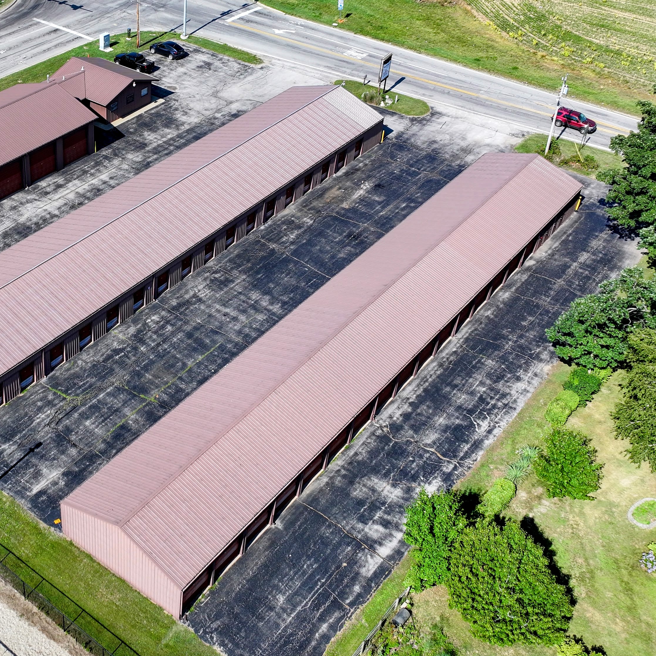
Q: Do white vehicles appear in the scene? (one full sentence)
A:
No, the scene contains no white vehicle.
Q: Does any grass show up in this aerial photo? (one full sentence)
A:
Yes, grass shows up in the scene.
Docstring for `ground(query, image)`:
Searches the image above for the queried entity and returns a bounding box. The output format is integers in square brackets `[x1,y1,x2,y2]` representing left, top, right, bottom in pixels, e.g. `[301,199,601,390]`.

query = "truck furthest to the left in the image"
[113,50,154,72]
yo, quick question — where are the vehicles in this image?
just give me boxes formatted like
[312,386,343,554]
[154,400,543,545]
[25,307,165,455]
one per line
[113,50,154,72]
[148,41,186,60]
[550,106,600,134]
